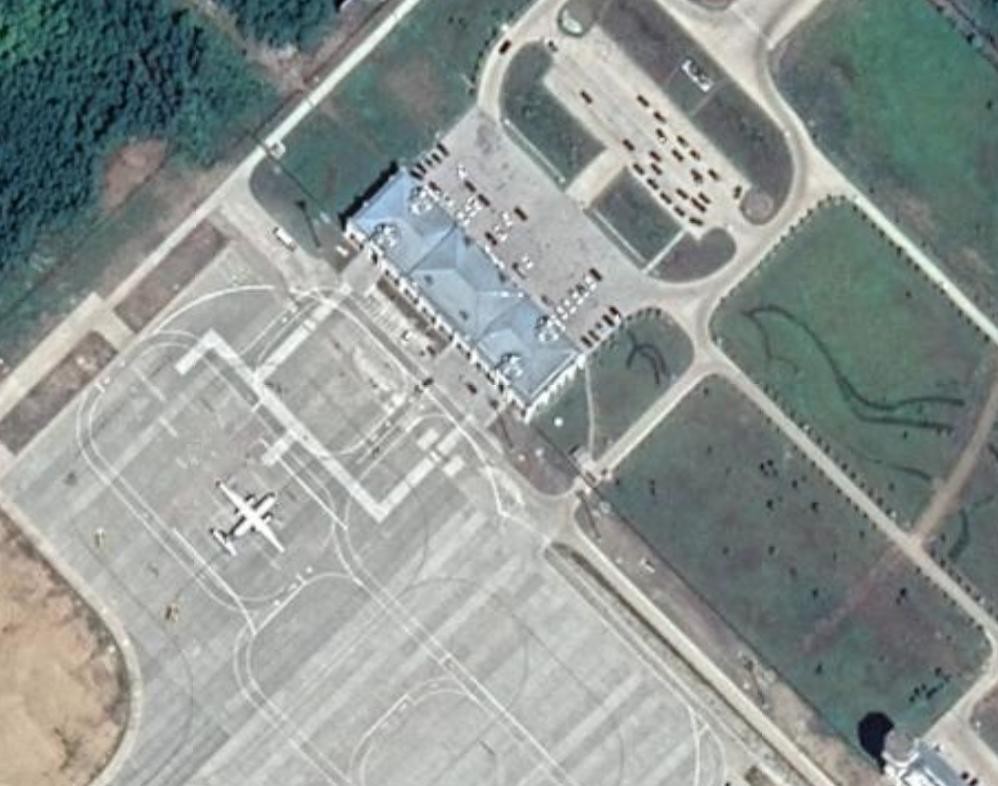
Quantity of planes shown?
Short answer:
1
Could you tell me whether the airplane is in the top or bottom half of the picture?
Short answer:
bottom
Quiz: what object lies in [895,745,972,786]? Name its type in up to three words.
building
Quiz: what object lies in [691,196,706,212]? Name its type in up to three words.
vehicle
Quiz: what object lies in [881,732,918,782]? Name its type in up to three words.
building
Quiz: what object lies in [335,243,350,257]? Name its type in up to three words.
vehicle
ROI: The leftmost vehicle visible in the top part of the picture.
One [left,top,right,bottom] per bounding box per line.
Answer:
[275,226,294,247]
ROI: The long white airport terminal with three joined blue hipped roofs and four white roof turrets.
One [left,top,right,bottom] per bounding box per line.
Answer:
[346,169,587,420]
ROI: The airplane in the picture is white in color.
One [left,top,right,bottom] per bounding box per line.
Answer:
[213,482,288,553]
